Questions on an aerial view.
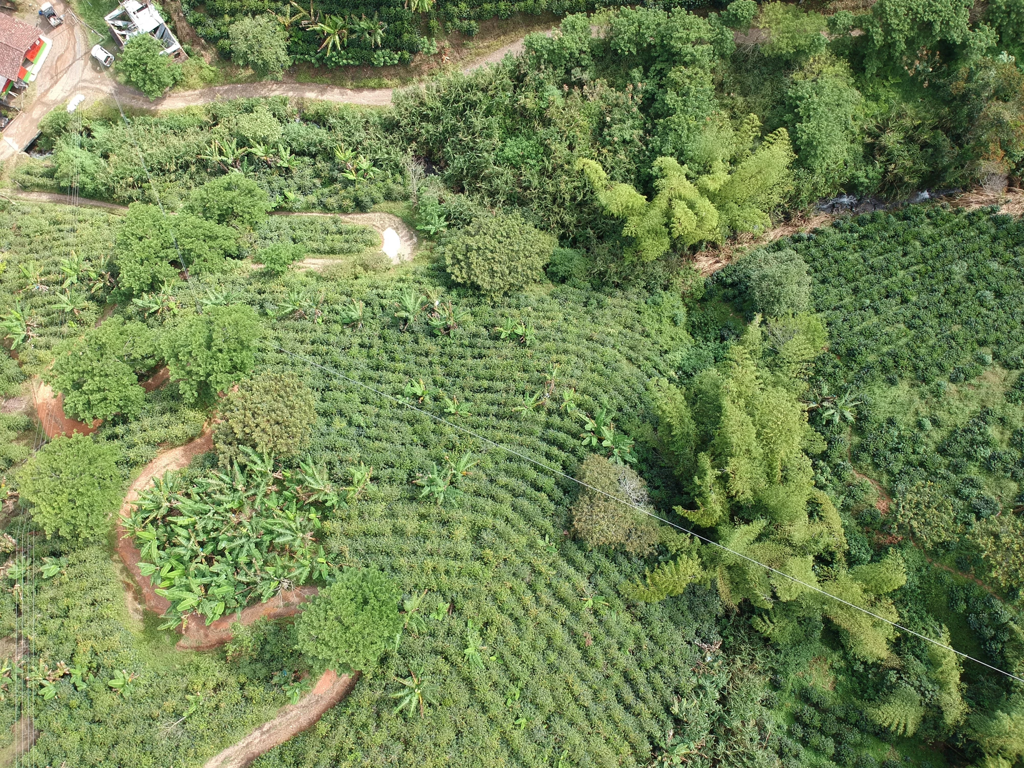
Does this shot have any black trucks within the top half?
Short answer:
No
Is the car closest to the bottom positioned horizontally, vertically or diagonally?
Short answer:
diagonally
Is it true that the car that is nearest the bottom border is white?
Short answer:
Yes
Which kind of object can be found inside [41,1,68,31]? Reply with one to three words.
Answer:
truck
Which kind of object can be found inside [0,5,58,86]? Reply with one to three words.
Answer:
house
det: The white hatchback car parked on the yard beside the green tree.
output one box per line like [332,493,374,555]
[90,45,118,71]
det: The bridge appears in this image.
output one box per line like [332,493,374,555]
[0,104,53,164]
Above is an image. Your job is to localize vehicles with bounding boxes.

[90,45,118,71]
[41,1,68,31]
